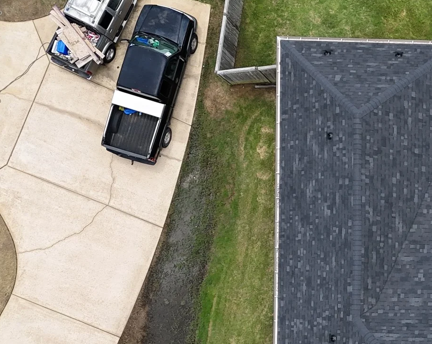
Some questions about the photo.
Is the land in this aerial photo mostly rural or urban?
urban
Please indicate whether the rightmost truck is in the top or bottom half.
top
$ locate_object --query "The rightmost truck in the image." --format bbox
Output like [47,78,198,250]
[98,3,202,167]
